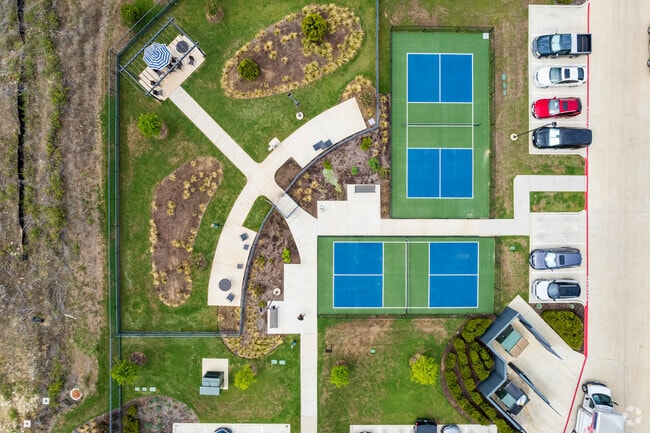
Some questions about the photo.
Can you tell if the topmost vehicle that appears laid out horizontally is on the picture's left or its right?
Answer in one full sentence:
You can find the topmost vehicle that appears laid out horizontally on the right side of the picture.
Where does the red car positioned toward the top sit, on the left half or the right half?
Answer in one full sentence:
You can find the red car positioned toward the top on the right side of the picture.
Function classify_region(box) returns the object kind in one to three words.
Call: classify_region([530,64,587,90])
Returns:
car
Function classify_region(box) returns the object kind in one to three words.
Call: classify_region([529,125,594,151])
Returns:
vehicle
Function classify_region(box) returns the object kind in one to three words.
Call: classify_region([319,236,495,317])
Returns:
sports court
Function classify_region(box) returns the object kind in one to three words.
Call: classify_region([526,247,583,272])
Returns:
car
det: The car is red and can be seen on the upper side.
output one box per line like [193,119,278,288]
[528,96,583,121]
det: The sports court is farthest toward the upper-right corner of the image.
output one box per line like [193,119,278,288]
[392,31,490,218]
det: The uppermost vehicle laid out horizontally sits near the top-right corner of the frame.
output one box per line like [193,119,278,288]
[529,30,592,58]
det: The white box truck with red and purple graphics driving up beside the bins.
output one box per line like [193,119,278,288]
[576,378,625,433]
